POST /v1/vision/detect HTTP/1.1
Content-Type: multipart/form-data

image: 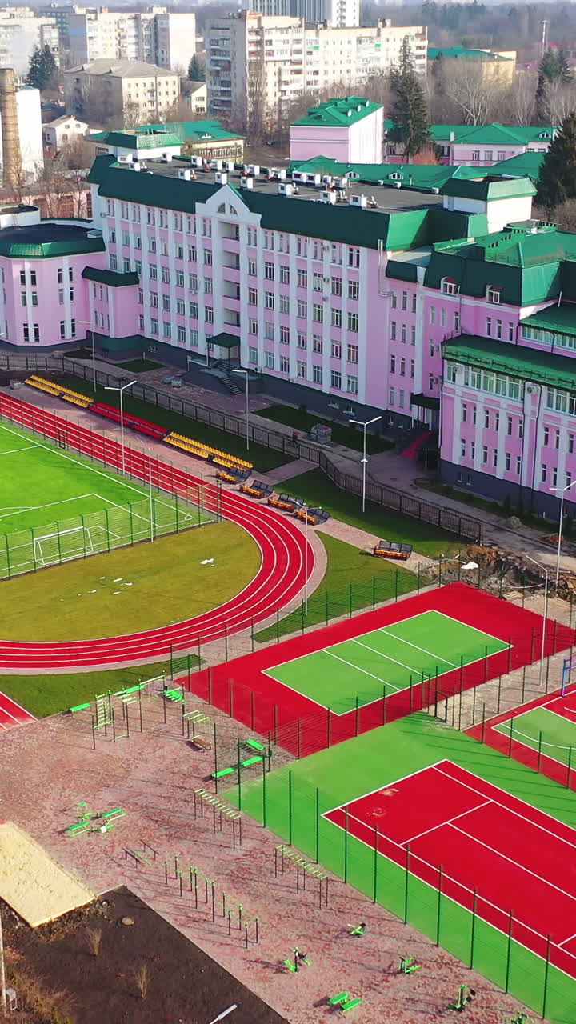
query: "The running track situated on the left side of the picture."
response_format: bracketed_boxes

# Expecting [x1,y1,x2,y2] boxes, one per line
[0,396,327,732]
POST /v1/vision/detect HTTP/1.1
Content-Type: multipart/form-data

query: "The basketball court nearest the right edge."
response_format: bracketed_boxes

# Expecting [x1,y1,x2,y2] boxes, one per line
[463,682,576,790]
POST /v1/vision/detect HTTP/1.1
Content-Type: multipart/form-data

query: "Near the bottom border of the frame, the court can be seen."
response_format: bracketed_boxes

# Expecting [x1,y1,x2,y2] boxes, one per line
[217,710,576,1024]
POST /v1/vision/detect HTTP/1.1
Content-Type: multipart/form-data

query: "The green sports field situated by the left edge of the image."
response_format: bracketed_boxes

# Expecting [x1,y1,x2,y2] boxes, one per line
[0,423,215,580]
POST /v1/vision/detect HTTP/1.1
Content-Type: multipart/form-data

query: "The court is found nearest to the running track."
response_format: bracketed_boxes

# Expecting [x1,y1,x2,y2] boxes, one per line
[171,580,576,759]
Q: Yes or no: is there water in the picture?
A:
No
